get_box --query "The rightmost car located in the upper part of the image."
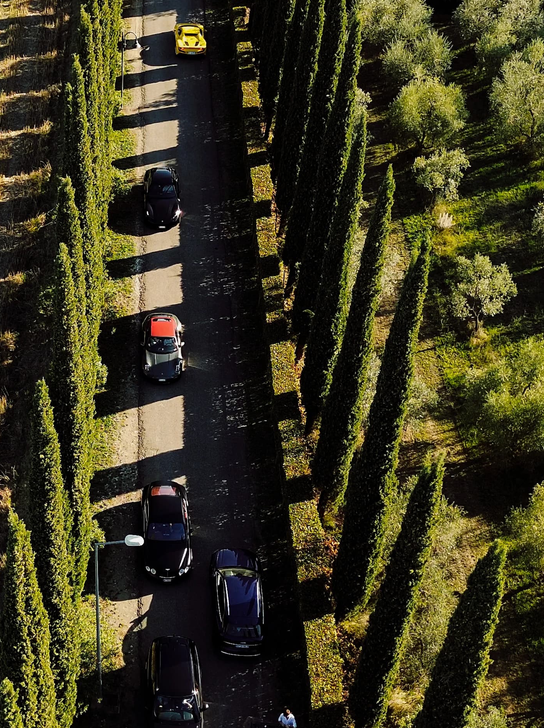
[175,25,207,59]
